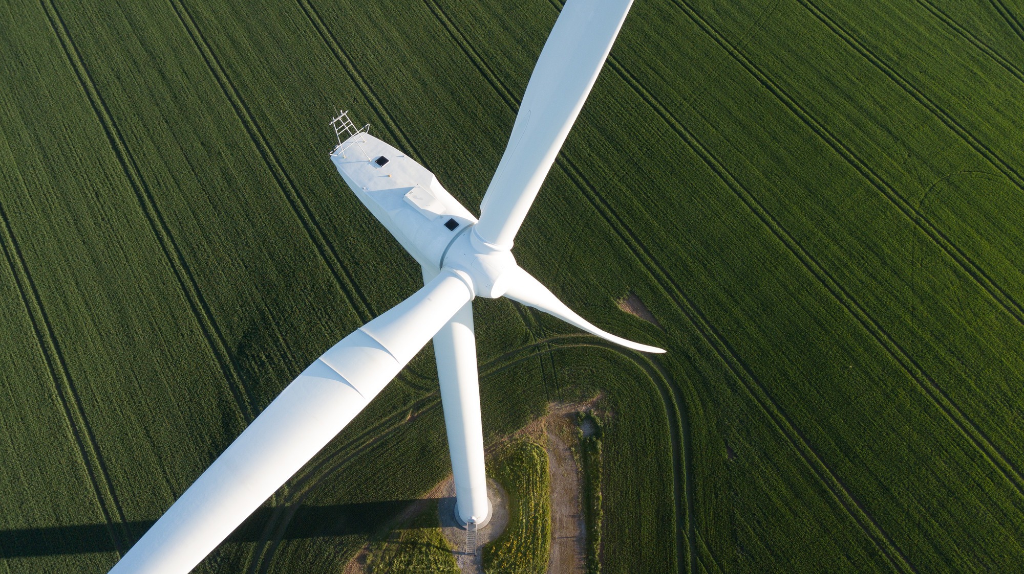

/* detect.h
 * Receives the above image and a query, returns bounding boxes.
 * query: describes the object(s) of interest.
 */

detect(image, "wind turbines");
[113,0,666,574]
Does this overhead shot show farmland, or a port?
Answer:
farmland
